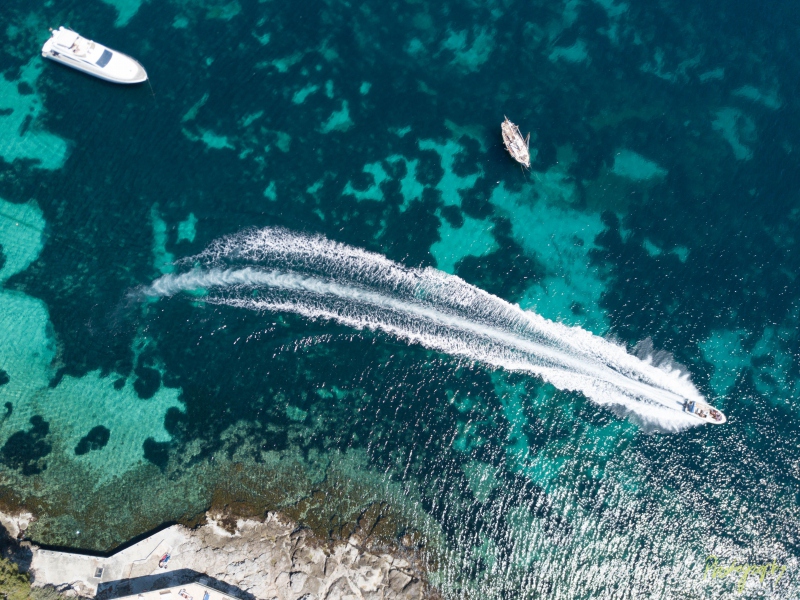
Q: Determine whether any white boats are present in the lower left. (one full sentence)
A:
No, I see no white boat in the lower left.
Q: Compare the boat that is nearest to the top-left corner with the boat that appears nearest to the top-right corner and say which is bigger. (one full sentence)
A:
Compared with the boat that appears nearest to the top-right corner, the boat that is nearest to the top-left corner is the larger one.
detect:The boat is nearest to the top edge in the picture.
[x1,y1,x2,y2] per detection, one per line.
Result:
[34,20,161,117]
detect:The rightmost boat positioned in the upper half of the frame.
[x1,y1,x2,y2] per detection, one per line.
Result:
[499,113,544,193]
